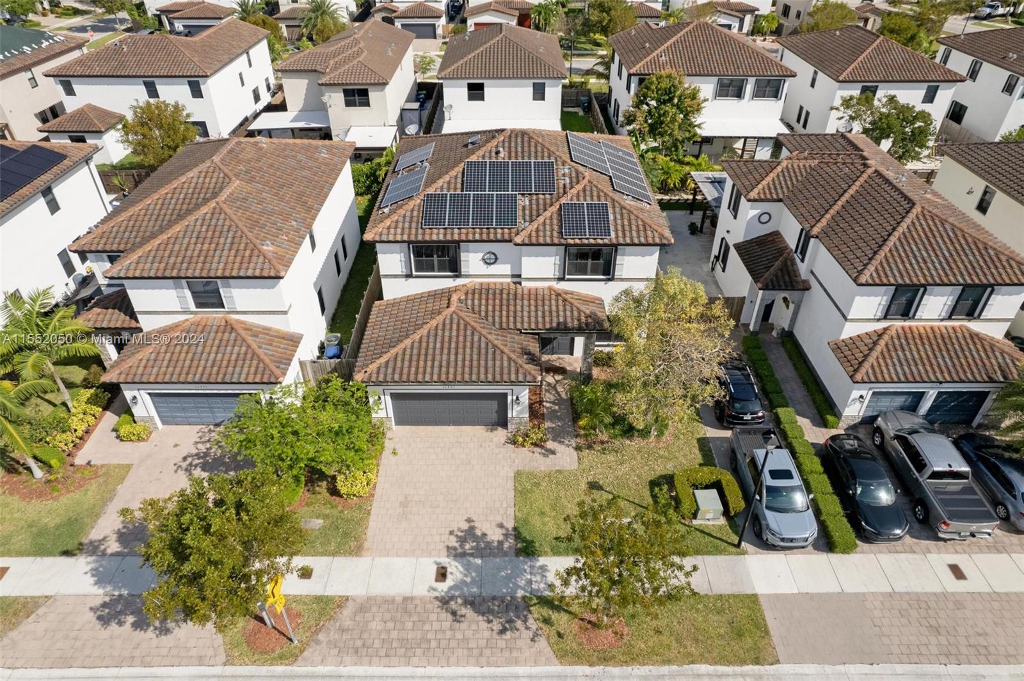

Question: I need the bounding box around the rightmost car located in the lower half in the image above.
[958,436,1024,532]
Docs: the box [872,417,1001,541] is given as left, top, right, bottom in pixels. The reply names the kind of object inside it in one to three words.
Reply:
truck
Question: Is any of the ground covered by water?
No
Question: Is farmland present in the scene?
No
